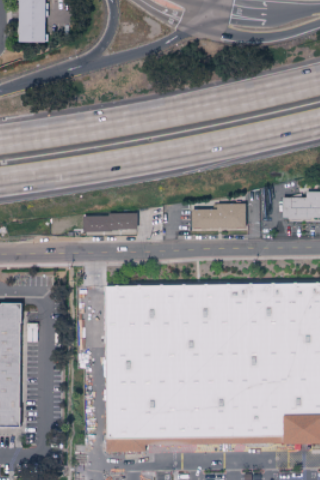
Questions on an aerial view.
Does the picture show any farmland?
No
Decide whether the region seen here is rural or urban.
urban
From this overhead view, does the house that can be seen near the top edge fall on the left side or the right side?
left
